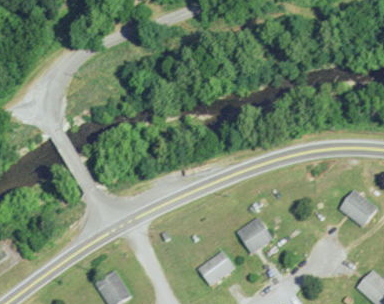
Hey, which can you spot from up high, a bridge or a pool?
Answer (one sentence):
It is a bridge that can be seen here.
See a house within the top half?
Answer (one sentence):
No, no house appears within the top half.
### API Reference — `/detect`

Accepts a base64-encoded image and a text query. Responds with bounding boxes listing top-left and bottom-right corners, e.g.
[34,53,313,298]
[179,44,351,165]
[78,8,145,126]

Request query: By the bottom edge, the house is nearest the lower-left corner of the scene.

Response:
[96,270,132,304]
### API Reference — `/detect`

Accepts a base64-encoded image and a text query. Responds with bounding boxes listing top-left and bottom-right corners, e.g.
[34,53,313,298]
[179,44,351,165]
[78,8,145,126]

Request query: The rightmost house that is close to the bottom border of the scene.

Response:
[356,270,384,304]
